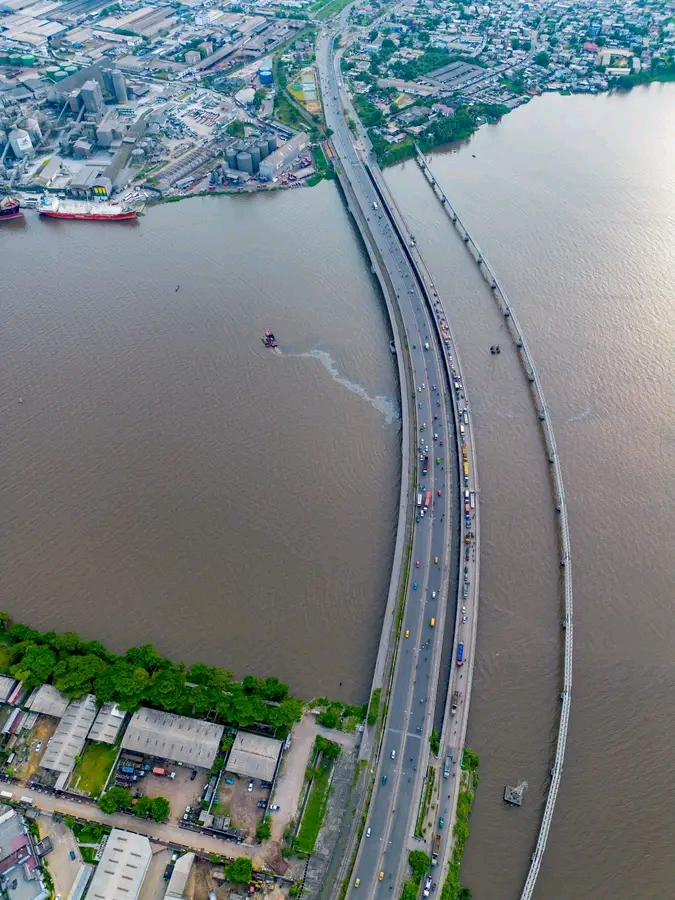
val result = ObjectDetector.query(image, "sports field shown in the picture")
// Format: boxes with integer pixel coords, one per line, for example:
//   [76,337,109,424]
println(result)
[287,71,322,115]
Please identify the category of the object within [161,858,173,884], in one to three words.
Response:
vehicle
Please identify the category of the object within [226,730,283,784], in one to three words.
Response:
building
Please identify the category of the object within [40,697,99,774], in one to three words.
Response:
building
